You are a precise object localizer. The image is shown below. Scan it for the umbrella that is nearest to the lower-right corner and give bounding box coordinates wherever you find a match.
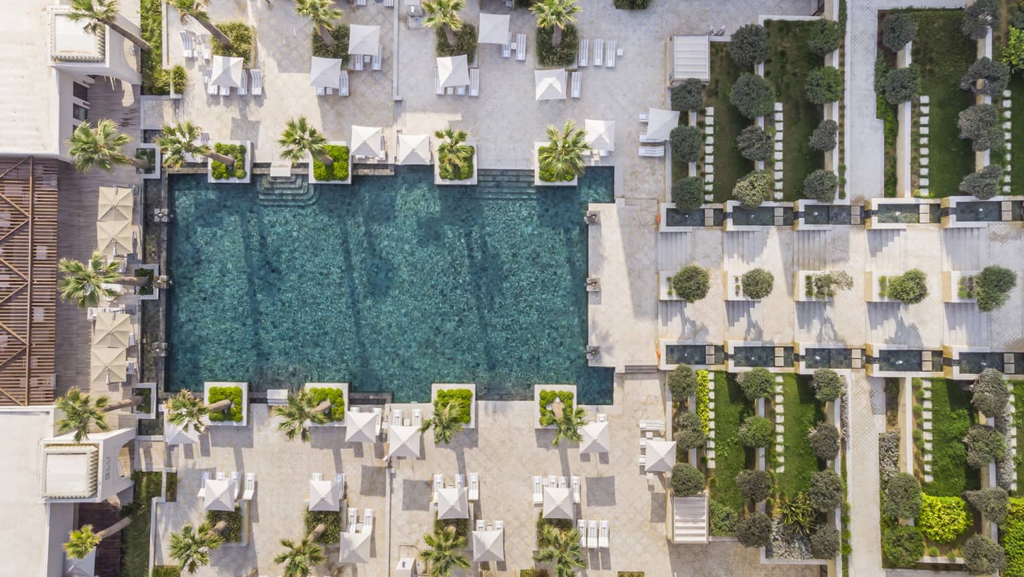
[644,440,675,471]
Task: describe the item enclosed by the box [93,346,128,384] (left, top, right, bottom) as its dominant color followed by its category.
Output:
white umbrella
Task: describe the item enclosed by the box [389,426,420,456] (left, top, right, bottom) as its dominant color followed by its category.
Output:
white umbrella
